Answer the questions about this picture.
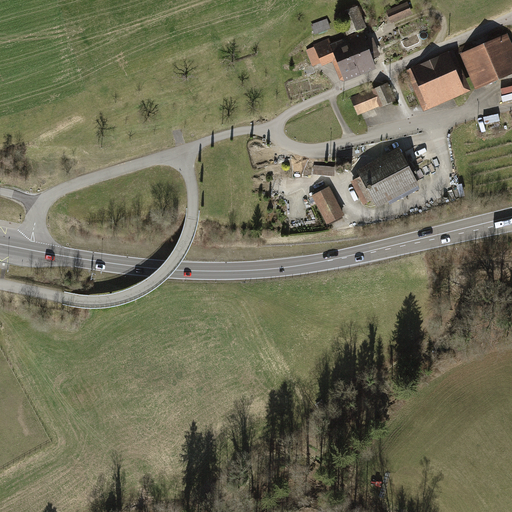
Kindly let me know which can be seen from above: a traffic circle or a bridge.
bridge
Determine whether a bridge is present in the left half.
Yes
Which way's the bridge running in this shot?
on a diagonal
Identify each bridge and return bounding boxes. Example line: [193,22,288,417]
[57,206,200,308]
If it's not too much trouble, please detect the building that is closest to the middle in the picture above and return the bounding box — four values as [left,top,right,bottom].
[312,186,344,224]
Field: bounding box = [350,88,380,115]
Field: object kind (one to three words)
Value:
house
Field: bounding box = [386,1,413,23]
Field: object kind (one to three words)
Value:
shed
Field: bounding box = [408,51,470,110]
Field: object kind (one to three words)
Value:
barn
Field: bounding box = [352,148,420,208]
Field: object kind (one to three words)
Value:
building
